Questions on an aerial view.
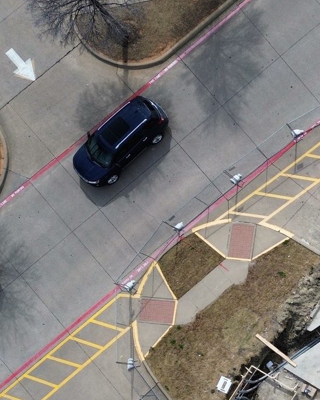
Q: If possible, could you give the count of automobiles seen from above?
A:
1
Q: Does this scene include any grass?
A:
Yes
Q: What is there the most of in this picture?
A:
paved ground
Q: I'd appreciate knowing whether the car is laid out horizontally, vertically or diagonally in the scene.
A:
diagonally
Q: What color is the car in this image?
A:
black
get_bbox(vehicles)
[71,94,169,188]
